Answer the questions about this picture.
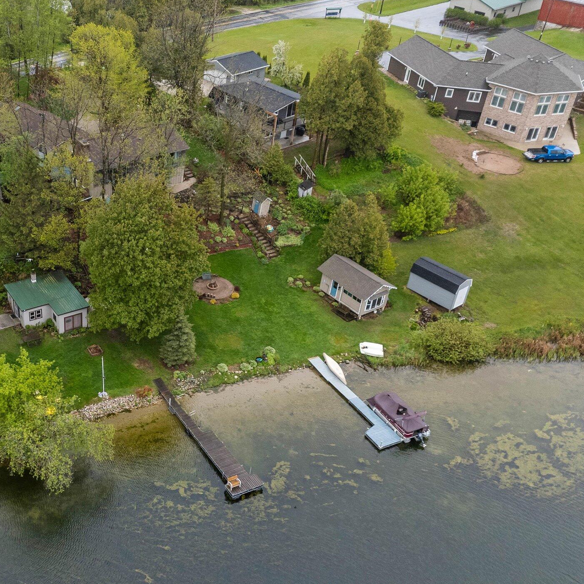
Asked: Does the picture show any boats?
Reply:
Yes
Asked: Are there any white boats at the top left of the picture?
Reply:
No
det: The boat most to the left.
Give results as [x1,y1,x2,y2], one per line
[324,353,346,385]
